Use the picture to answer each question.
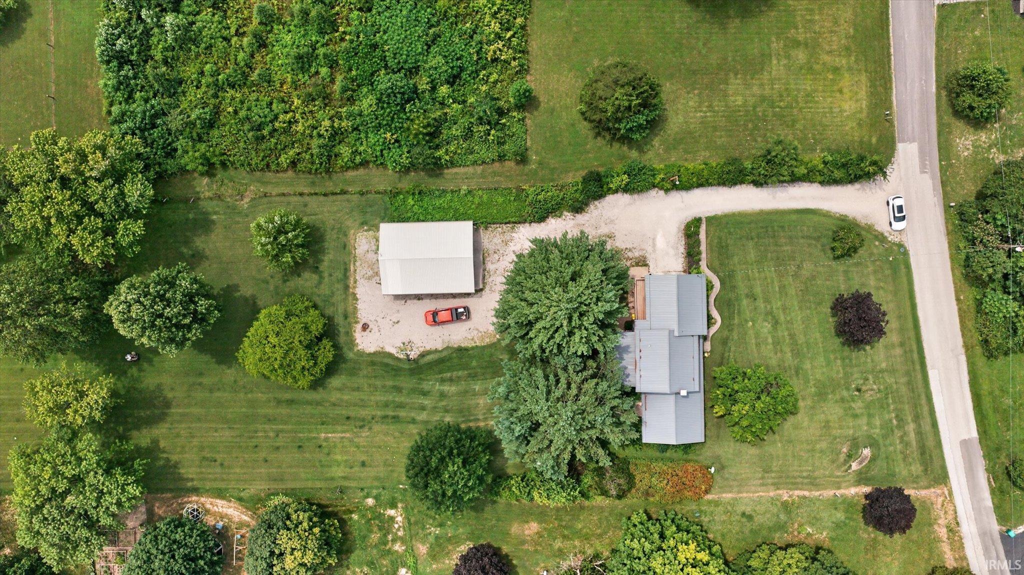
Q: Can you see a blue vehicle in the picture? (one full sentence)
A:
No, this view has no blue vehicle in it.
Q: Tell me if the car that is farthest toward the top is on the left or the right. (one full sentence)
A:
It is on the right.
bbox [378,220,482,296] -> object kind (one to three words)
barn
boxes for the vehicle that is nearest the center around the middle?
[424,305,472,327]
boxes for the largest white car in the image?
[885,197,908,231]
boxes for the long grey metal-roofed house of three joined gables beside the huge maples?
[614,273,707,444]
